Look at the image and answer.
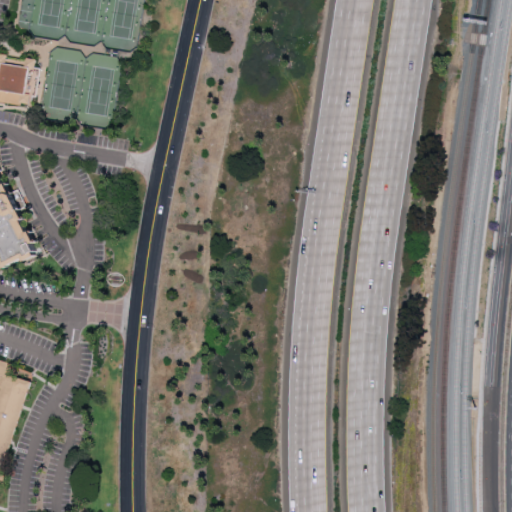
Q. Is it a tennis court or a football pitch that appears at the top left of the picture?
tennis court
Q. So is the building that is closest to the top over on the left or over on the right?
left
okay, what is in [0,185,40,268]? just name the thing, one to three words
building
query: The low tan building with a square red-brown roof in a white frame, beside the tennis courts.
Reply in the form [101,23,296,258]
[0,55,39,104]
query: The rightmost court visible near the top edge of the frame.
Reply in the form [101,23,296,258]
[102,0,144,51]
